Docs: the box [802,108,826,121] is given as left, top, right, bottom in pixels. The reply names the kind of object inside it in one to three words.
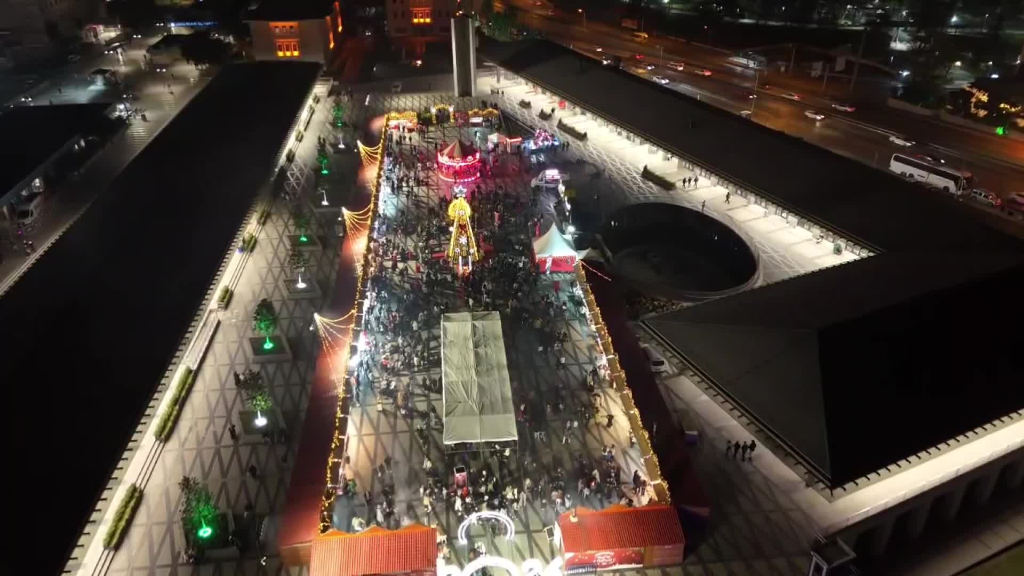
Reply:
vehicle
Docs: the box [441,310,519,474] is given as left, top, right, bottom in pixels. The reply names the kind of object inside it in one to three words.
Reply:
tent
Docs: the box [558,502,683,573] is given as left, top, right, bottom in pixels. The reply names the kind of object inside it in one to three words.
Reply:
shed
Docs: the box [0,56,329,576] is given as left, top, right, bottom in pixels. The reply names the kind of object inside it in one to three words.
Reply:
building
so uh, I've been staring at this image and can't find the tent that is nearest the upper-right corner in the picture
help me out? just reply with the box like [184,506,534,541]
[574,237,606,269]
